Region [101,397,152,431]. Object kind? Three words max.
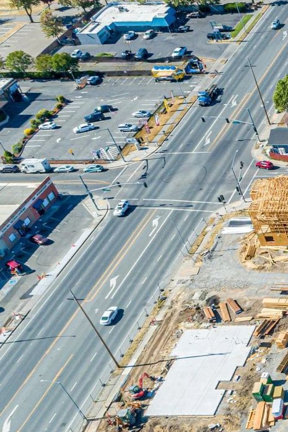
work vehicle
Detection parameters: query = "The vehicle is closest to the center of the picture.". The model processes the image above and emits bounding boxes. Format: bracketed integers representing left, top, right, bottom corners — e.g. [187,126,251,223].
[113,199,131,215]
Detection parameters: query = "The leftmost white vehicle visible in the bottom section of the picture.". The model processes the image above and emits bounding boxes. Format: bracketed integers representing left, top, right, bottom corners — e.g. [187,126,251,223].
[99,307,118,325]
